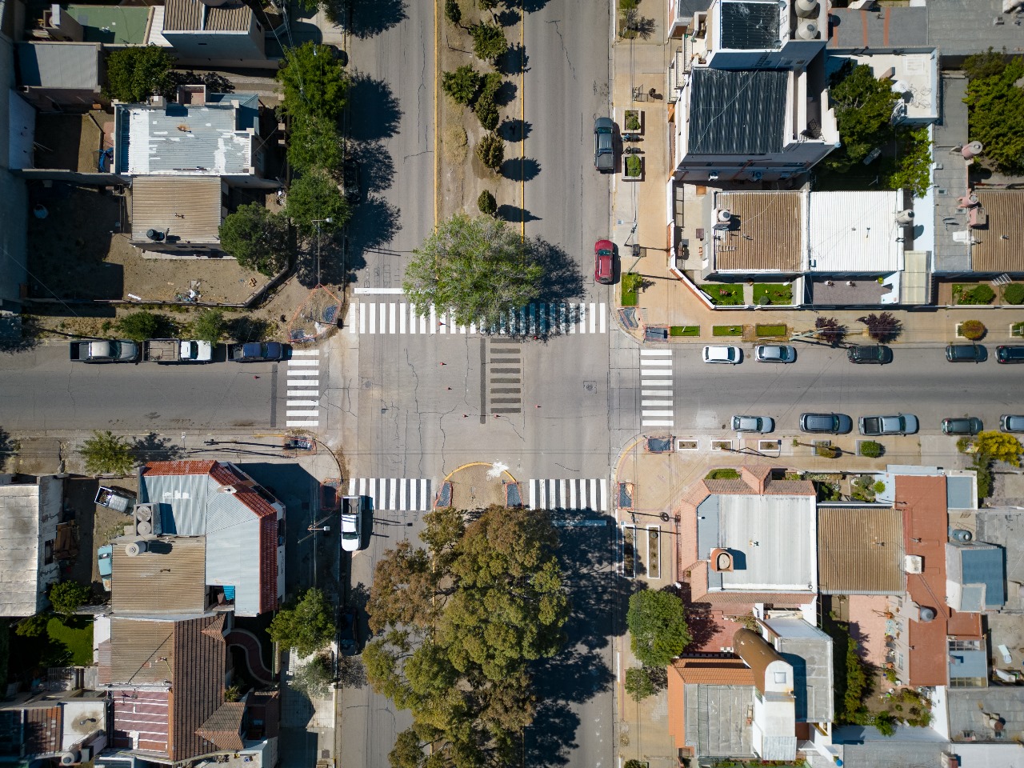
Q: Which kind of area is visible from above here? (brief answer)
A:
residential area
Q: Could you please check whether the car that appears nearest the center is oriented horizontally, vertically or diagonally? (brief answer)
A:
vertically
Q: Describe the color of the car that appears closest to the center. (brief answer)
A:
red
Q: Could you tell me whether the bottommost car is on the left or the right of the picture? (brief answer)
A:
left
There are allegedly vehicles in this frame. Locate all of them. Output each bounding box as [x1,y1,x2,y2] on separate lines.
[996,414,1024,433]
[856,412,918,437]
[623,143,644,152]
[700,344,741,365]
[593,240,616,285]
[729,414,774,435]
[594,118,616,174]
[753,344,794,364]
[90,482,140,516]
[339,494,364,551]
[343,155,362,202]
[844,342,892,365]
[69,339,141,363]
[942,342,986,364]
[226,340,285,362]
[797,411,852,436]
[143,338,215,364]
[94,544,112,582]
[338,599,359,654]
[938,415,982,437]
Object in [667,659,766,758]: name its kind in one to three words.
house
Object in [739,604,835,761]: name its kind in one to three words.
house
